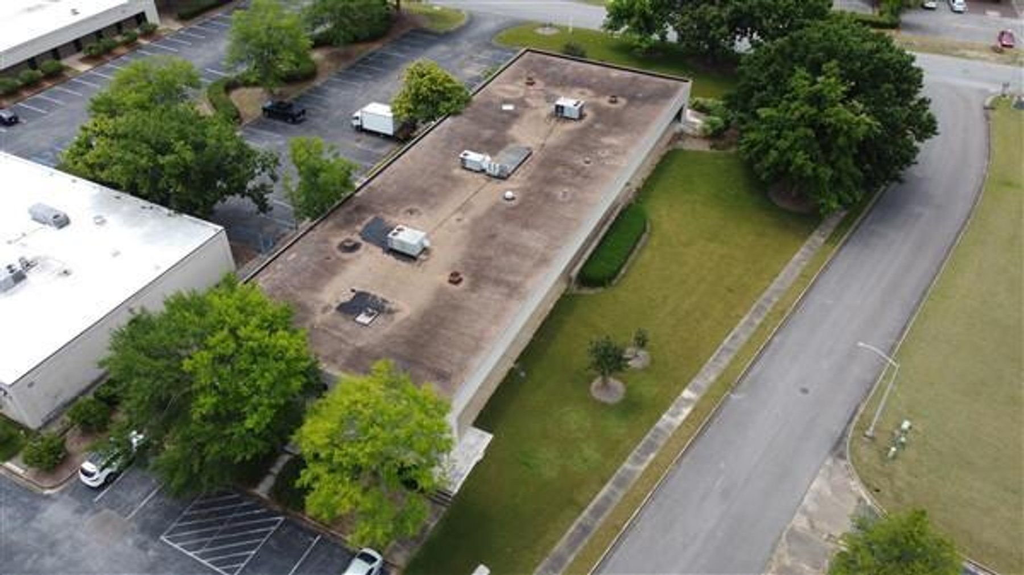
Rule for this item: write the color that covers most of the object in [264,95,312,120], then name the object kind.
black truck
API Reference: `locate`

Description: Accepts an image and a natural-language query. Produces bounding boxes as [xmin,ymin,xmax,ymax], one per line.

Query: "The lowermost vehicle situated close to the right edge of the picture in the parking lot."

[998,28,1018,47]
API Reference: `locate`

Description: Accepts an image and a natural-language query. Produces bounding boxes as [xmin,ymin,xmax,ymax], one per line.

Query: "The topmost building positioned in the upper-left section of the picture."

[0,0,160,82]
